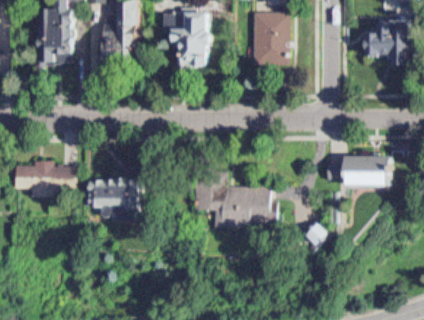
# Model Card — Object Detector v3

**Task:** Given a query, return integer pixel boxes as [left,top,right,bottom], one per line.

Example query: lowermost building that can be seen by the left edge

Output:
[14,160,78,198]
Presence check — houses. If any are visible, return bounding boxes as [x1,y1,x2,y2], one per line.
[362,18,412,66]
[44,0,78,64]
[340,156,394,188]
[382,0,411,12]
[14,160,78,198]
[87,176,142,218]
[113,0,141,55]
[163,7,214,68]
[196,172,280,226]
[254,12,293,66]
